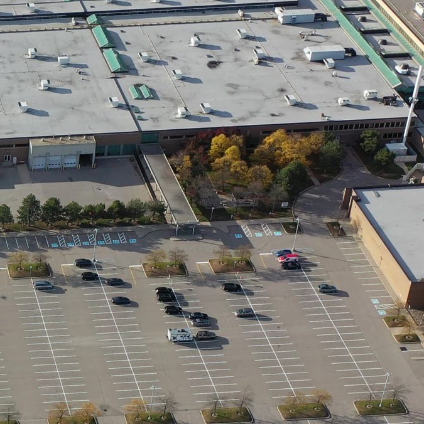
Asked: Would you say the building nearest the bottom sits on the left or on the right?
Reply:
right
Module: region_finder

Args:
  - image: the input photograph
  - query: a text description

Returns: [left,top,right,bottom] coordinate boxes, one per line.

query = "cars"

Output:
[234,307,256,318]
[317,284,338,293]
[33,280,53,290]
[157,292,177,303]
[111,297,131,305]
[80,271,99,280]
[281,260,302,270]
[194,330,216,340]
[187,312,208,320]
[191,319,211,327]
[74,258,93,267]
[221,283,241,292]
[153,285,173,296]
[274,249,293,257]
[164,305,184,314]
[105,278,125,286]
